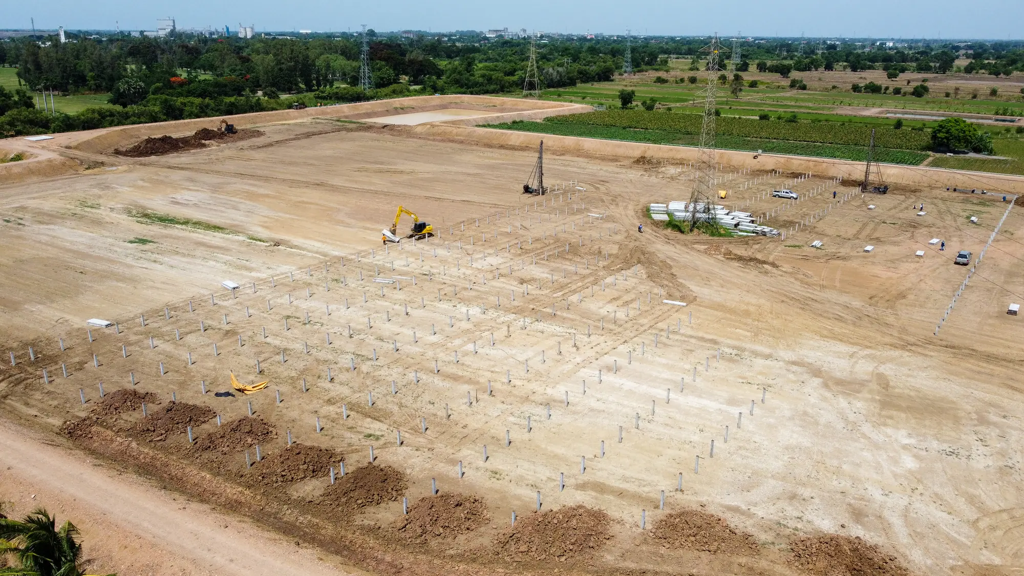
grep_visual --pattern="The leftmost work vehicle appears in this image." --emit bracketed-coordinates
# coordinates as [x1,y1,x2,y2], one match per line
[209,116,236,133]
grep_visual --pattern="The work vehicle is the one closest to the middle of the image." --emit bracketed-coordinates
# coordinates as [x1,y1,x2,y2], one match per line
[389,209,439,240]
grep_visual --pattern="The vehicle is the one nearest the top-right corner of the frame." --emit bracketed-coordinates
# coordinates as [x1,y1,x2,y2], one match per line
[955,250,974,266]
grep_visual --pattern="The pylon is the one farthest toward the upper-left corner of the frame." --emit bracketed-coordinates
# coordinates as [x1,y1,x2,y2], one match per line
[353,23,370,87]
